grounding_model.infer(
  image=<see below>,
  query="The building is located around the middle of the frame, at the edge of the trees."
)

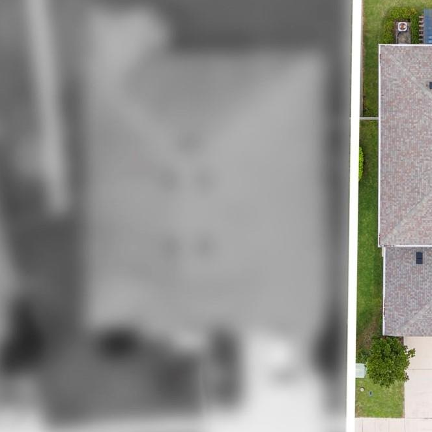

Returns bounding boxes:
[86,9,326,357]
